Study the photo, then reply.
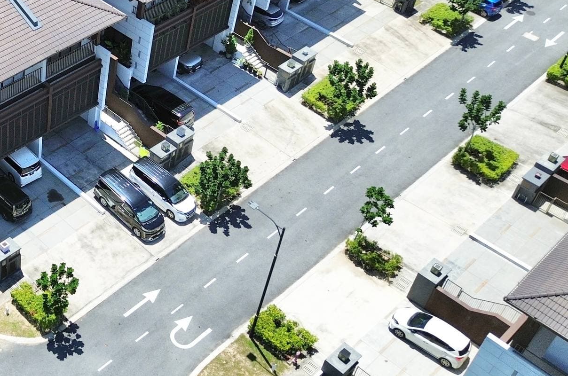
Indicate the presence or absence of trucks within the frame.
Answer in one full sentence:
No, no truck can be seen from above.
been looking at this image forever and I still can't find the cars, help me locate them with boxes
[179,53,193,63]
[259,1,296,33]
[469,0,507,20]
[385,303,481,374]
[93,162,174,240]
[125,148,206,221]
[0,148,67,203]
[136,83,203,132]
[0,176,53,239]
